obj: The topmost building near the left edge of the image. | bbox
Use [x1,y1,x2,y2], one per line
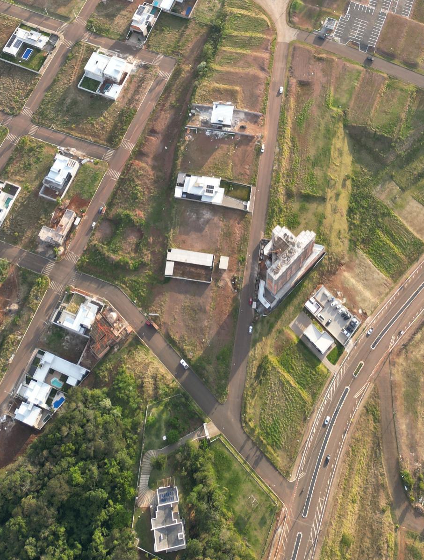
[2,28,50,61]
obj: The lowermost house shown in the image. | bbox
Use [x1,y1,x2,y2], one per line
[152,485,187,552]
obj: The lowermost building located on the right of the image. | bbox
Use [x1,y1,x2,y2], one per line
[303,322,335,353]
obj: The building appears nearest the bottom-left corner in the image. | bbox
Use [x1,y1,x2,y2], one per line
[15,400,46,427]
